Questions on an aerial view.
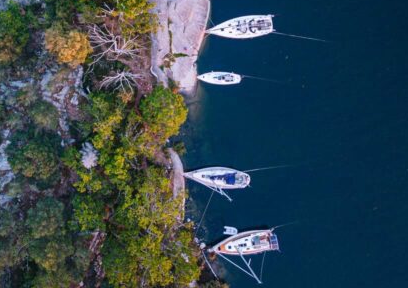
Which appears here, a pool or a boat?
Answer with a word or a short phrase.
boat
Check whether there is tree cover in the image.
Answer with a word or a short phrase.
Yes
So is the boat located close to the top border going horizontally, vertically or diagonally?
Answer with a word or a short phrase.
horizontally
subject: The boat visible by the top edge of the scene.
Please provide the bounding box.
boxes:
[205,13,276,39]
